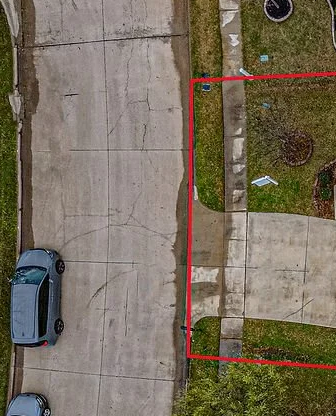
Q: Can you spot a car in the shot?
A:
Yes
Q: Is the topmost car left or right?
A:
left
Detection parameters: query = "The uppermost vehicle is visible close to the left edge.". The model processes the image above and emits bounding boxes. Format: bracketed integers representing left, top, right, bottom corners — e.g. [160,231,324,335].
[12,247,67,346]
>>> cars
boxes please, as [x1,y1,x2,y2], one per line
[12,247,67,346]
[6,389,53,416]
